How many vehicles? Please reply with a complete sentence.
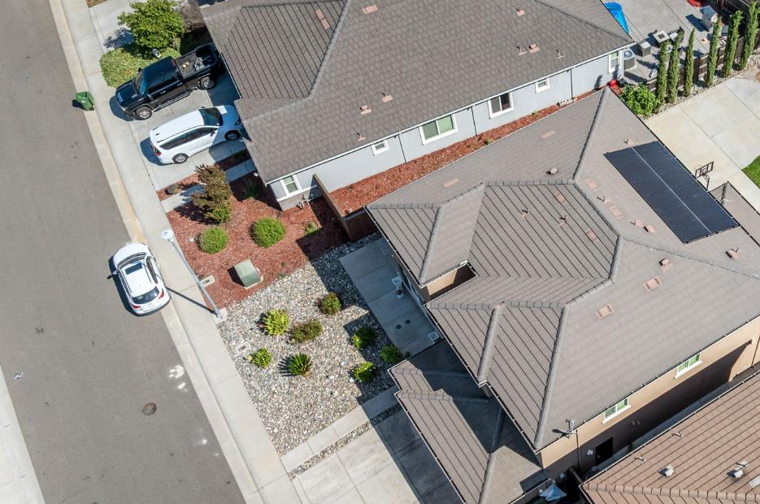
There are 3 vehicles in the image.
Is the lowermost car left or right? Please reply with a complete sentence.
The lowermost car sits on the left side.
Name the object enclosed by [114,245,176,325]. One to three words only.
car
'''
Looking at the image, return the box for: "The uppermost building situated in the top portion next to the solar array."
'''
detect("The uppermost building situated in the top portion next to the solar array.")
[199,0,636,210]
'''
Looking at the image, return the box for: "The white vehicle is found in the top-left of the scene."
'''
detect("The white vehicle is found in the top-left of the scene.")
[141,104,244,164]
